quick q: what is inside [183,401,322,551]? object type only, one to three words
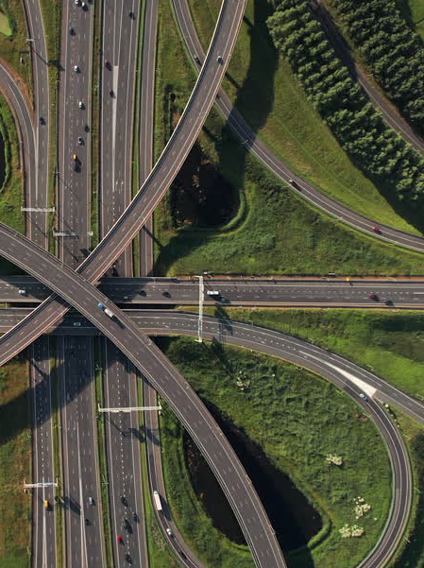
pond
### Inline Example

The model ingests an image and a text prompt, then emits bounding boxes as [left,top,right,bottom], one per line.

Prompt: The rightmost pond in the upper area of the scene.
[169,146,240,228]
